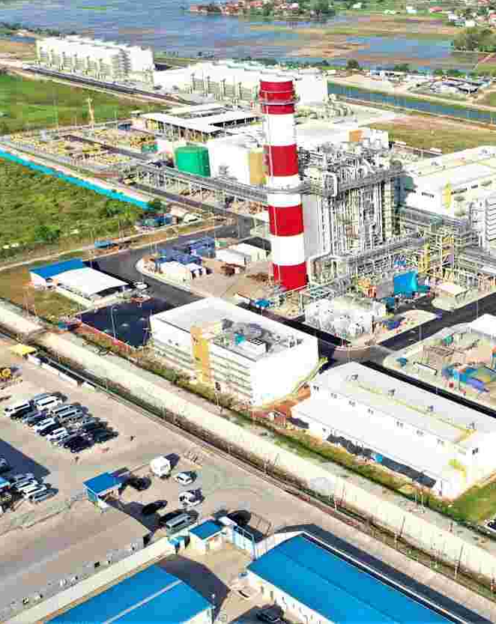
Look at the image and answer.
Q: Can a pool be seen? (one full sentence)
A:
No, I can see no pool in this picture.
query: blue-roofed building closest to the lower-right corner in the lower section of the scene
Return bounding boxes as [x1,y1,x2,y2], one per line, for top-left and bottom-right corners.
[240,533,462,624]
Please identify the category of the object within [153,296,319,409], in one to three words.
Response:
building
